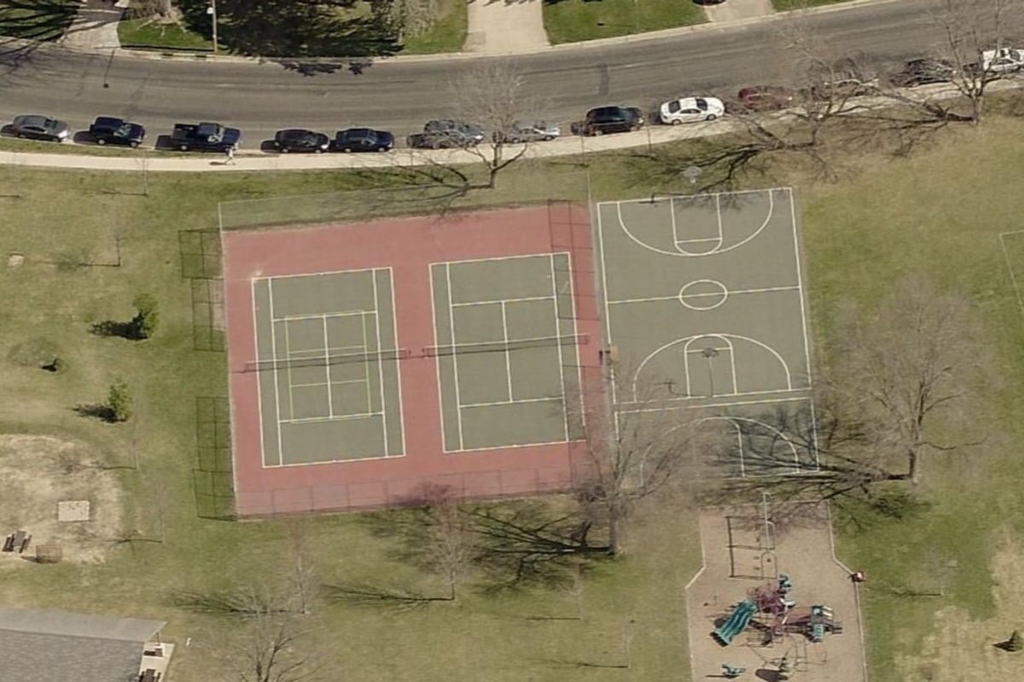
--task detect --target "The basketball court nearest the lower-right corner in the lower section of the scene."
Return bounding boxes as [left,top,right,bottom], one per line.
[611,393,821,492]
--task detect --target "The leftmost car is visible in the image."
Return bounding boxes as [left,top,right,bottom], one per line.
[12,111,70,139]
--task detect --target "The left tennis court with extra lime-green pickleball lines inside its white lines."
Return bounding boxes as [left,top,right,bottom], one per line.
[223,217,424,516]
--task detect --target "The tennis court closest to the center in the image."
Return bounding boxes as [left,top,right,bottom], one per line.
[404,202,610,501]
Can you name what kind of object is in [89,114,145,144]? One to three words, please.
car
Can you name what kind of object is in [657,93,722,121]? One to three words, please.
car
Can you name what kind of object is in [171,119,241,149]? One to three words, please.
truck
